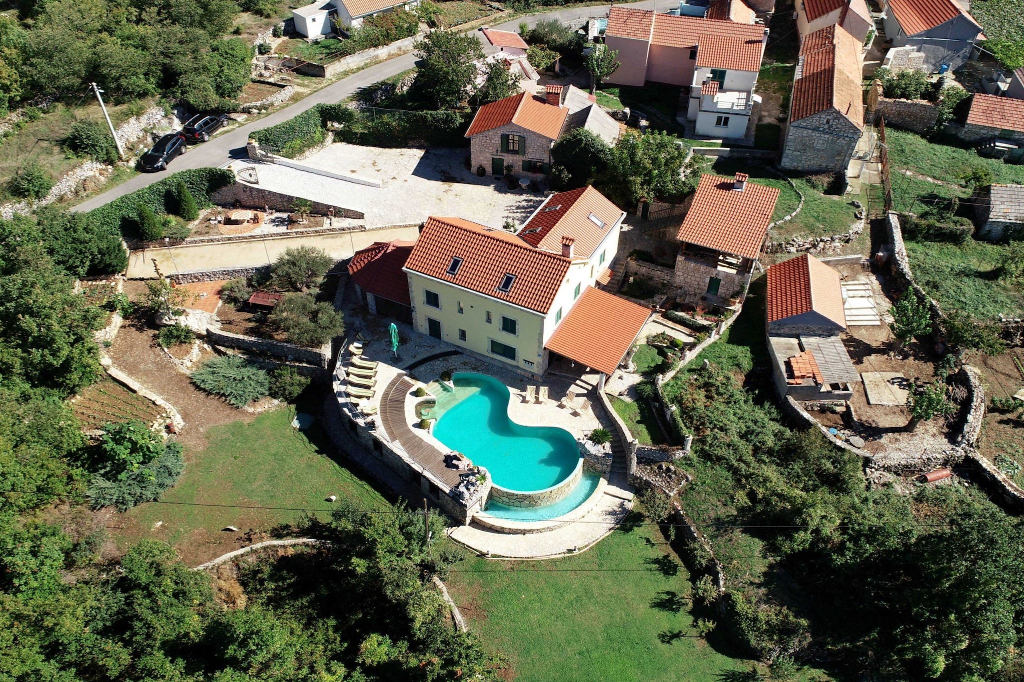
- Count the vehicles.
two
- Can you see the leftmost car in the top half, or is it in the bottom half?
top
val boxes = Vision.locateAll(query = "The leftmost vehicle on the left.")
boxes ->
[139,129,188,170]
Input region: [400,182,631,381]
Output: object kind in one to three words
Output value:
house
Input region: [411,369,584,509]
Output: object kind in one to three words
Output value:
swimming pool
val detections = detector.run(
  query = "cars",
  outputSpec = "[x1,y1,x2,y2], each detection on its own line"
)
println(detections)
[180,108,231,141]
[139,129,188,170]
